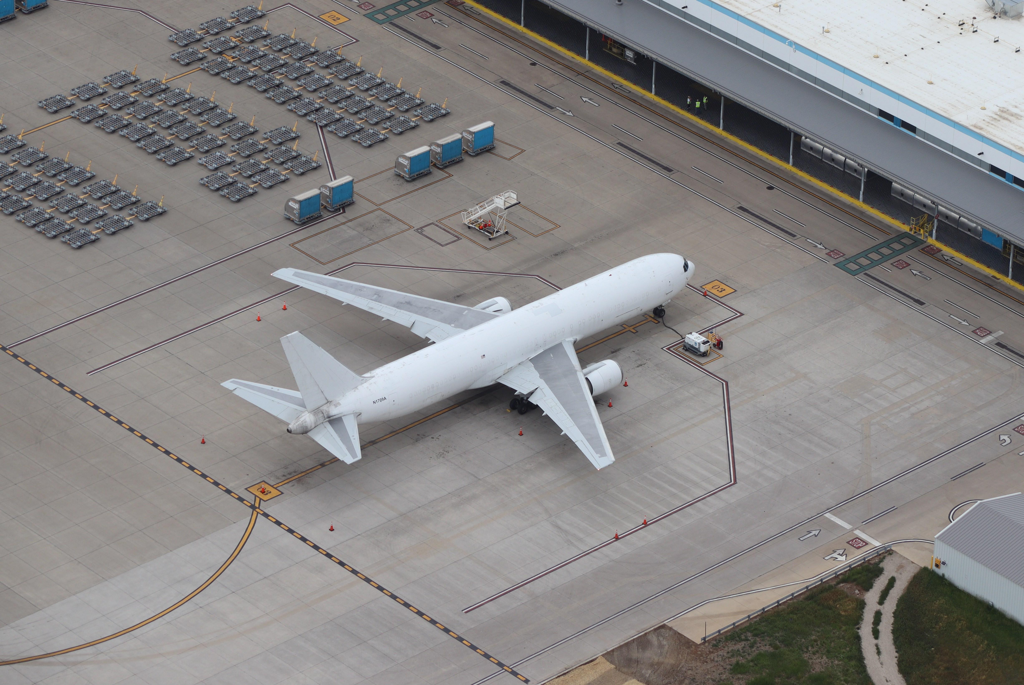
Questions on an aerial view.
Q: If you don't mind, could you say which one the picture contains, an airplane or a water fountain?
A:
airplane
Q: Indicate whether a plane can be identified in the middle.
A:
Yes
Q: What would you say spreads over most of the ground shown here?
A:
paved ground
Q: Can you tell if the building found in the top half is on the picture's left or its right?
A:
right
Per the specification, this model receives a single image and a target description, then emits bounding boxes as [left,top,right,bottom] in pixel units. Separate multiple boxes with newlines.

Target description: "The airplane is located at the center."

[220,252,696,471]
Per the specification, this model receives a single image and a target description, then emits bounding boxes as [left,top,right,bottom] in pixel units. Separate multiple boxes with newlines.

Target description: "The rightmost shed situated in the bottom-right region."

[930,490,1024,620]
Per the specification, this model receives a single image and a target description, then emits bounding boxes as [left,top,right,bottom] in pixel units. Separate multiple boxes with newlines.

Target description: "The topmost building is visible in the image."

[463,0,1024,292]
